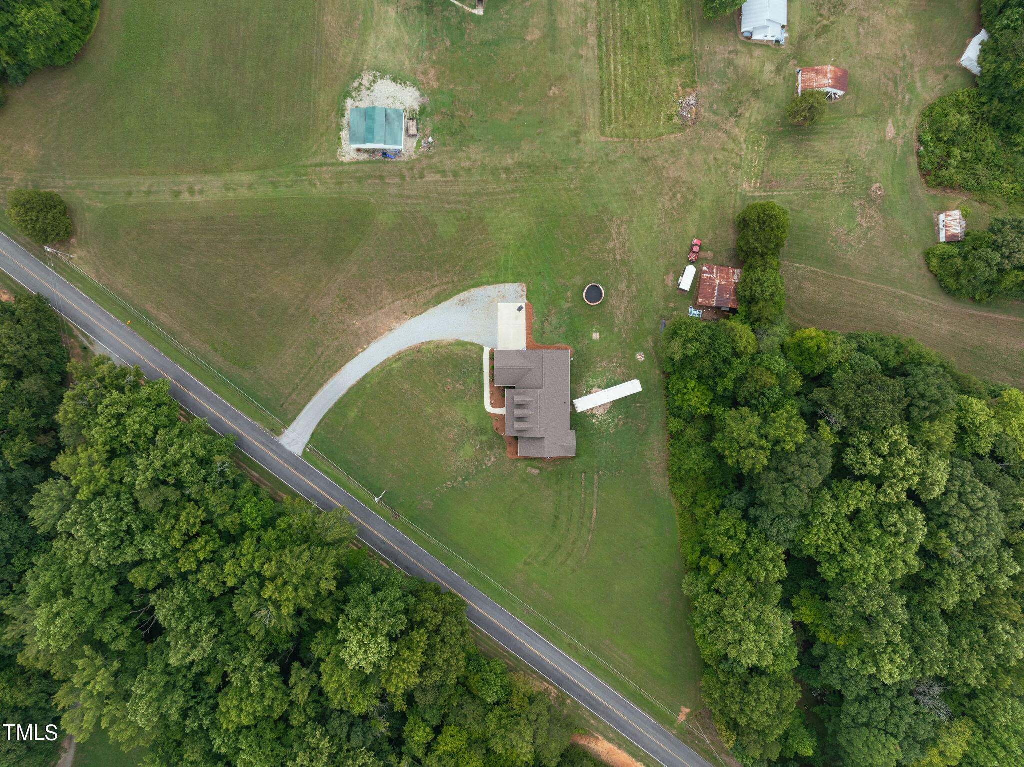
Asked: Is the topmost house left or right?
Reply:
right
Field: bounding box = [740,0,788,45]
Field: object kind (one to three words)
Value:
house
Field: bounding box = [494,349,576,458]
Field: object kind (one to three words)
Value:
house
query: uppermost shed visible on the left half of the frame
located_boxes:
[350,105,406,150]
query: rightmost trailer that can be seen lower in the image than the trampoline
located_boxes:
[571,380,642,413]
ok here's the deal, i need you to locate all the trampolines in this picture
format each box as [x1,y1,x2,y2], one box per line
[583,284,604,304]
